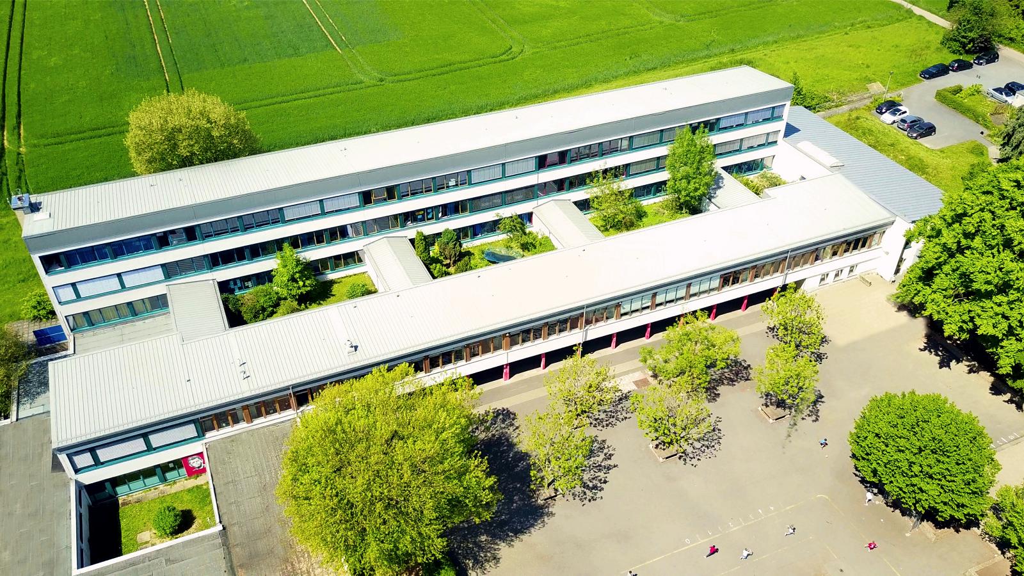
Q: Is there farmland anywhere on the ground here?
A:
Yes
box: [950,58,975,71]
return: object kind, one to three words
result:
vehicle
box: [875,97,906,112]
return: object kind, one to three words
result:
car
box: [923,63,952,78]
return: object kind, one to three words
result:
car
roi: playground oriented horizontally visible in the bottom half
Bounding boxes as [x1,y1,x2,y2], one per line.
[334,275,1024,576]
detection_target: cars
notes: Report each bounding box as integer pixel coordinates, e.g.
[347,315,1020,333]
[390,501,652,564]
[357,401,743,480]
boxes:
[989,87,1021,105]
[875,97,906,112]
[884,104,915,122]
[977,49,1002,64]
[899,113,926,129]
[950,58,975,71]
[909,118,941,137]
[1003,78,1024,92]
[923,63,952,78]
